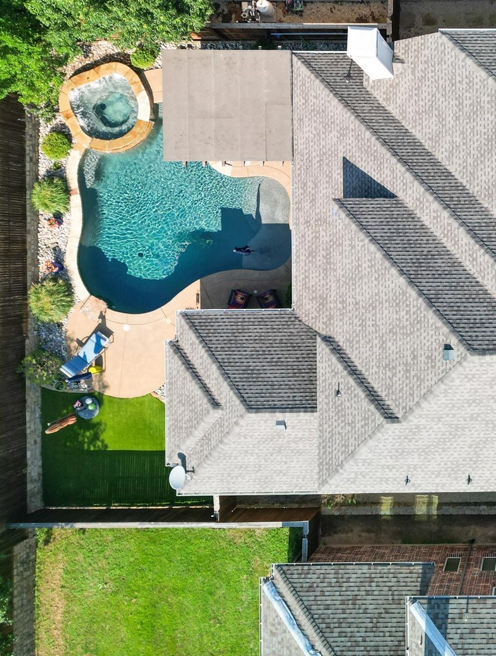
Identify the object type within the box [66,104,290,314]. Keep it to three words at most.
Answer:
swimming pool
